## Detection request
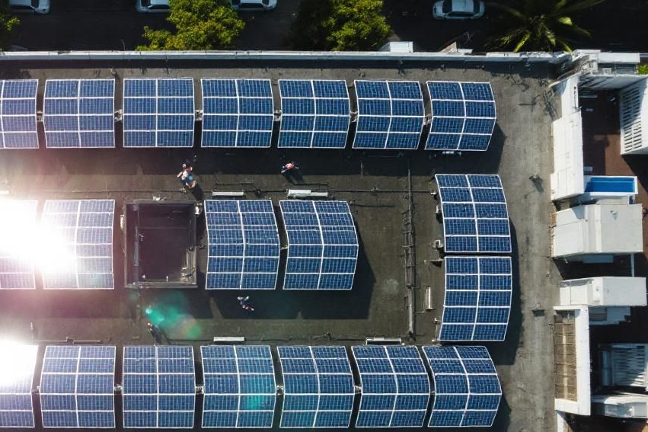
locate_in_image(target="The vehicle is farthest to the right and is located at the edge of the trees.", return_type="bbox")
[428,0,484,24]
